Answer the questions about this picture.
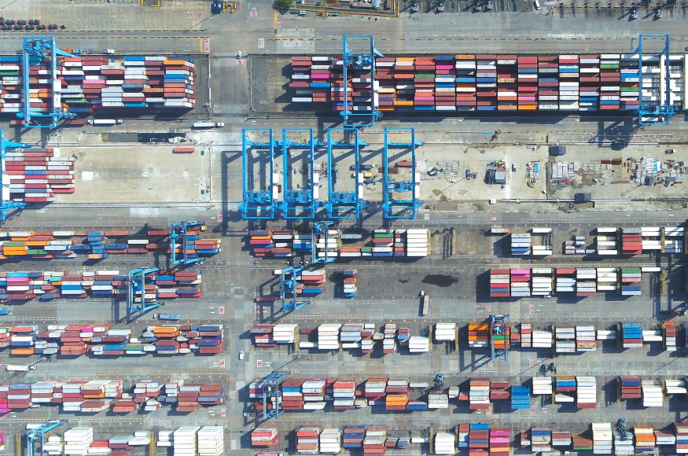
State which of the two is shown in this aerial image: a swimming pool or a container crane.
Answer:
container crane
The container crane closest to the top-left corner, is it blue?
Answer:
Yes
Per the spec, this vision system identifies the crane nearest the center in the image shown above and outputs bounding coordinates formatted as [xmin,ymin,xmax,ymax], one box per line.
[311,220,339,263]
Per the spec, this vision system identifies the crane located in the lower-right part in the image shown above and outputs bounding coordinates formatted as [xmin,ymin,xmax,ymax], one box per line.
[491,313,511,360]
